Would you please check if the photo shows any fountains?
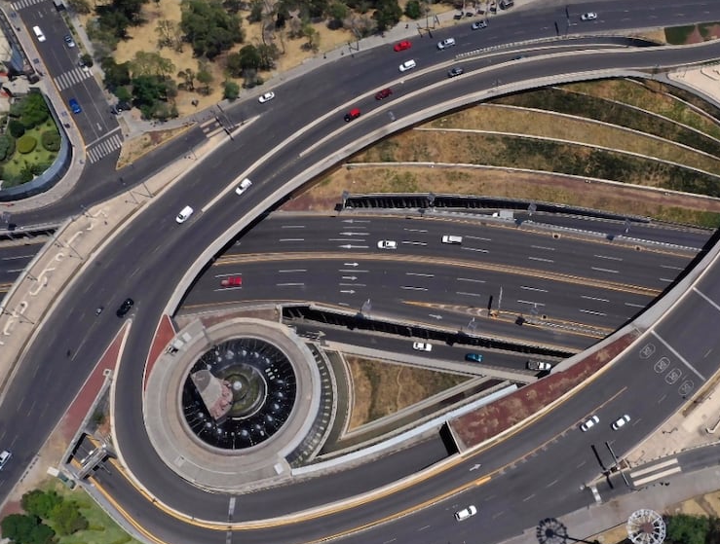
Yes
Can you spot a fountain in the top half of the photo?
No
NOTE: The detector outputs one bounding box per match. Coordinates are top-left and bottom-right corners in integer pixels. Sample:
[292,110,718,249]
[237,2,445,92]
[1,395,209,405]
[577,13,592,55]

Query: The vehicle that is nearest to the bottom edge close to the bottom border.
[454,506,477,521]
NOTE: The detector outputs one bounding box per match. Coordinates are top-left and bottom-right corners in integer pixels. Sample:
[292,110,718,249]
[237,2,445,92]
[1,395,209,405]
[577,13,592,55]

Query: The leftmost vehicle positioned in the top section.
[33,25,45,41]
